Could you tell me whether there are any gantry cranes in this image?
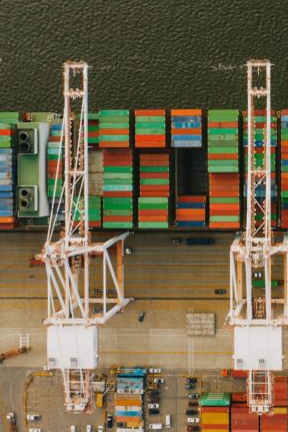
Yes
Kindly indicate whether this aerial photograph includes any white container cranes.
Yes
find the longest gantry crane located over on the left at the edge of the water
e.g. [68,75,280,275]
[34,61,139,415]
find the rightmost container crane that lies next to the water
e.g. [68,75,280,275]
[228,61,288,415]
